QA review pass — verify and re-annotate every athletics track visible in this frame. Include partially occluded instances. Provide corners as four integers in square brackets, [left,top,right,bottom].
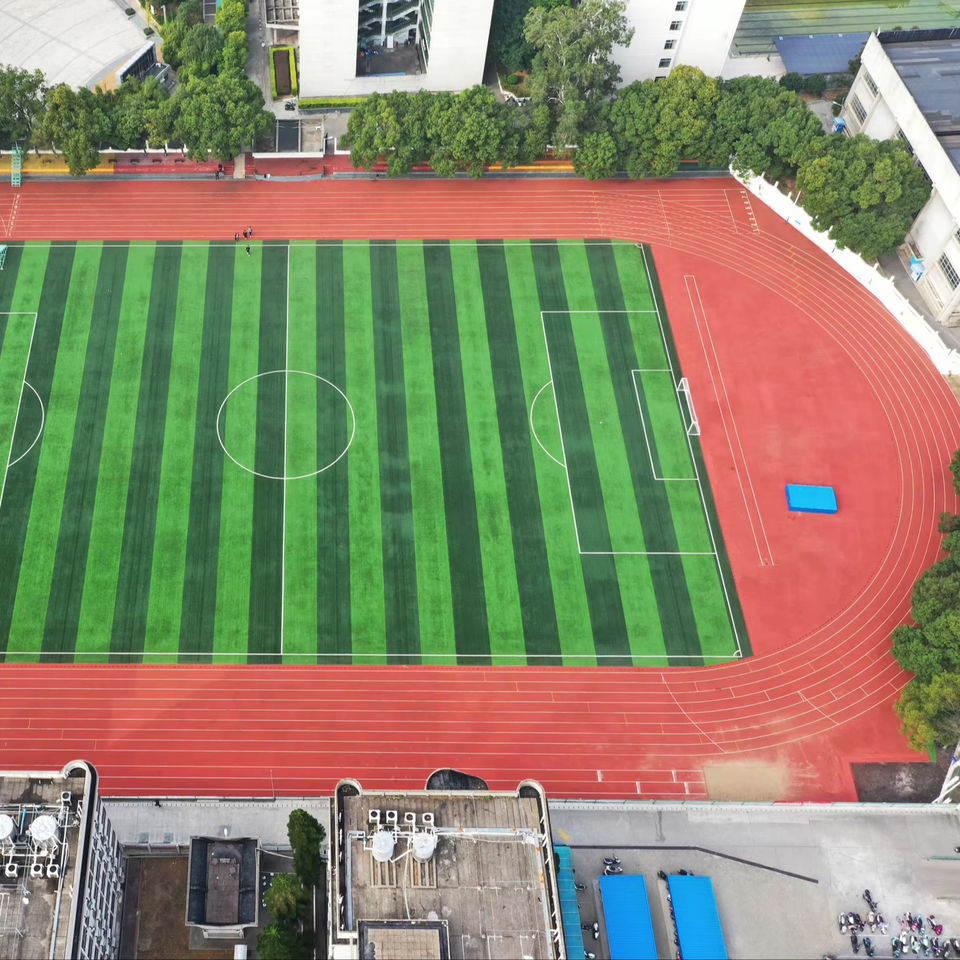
[0,177,960,800]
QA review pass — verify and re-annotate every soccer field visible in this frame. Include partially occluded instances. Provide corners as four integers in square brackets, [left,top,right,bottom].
[0,239,756,668]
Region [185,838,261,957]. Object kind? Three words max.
building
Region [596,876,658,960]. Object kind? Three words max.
shed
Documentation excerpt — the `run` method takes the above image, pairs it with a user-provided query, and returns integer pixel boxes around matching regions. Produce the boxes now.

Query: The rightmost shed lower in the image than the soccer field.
[664,877,728,960]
